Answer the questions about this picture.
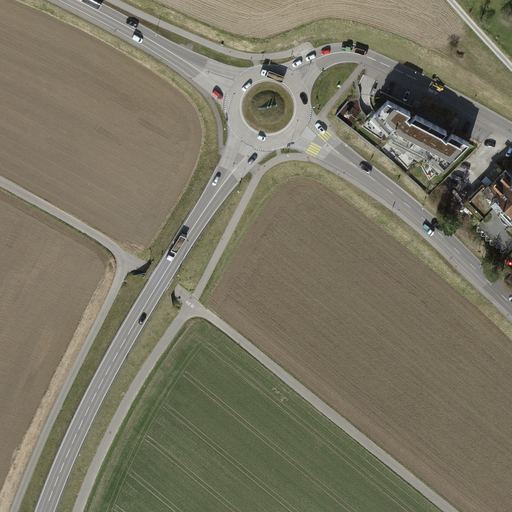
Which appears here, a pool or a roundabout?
roundabout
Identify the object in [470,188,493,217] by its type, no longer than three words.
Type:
shed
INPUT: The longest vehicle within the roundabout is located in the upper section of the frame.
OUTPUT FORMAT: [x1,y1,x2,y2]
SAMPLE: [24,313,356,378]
[262,68,286,82]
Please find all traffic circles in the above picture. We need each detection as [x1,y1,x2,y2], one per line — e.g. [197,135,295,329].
[224,64,312,151]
